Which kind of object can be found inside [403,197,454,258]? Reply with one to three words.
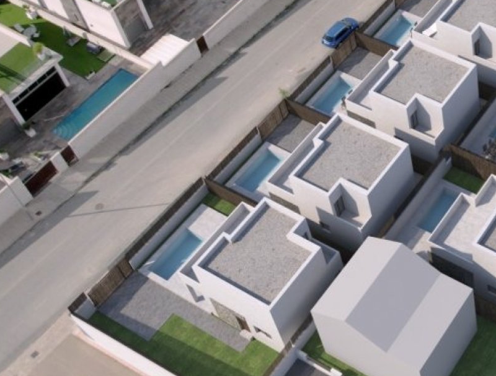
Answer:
swimming pool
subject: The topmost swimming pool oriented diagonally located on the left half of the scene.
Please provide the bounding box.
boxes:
[48,67,142,142]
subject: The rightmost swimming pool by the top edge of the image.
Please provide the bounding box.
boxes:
[374,10,423,49]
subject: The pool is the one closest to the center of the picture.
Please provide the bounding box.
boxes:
[230,145,292,198]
